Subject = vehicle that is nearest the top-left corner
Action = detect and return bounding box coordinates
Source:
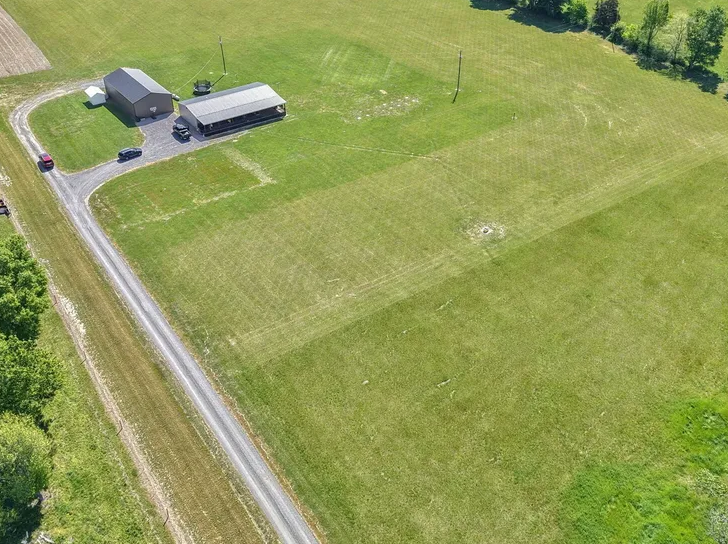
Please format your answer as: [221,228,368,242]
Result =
[35,154,50,169]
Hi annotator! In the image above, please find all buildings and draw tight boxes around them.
[181,81,287,135]
[102,66,174,119]
[85,88,104,105]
